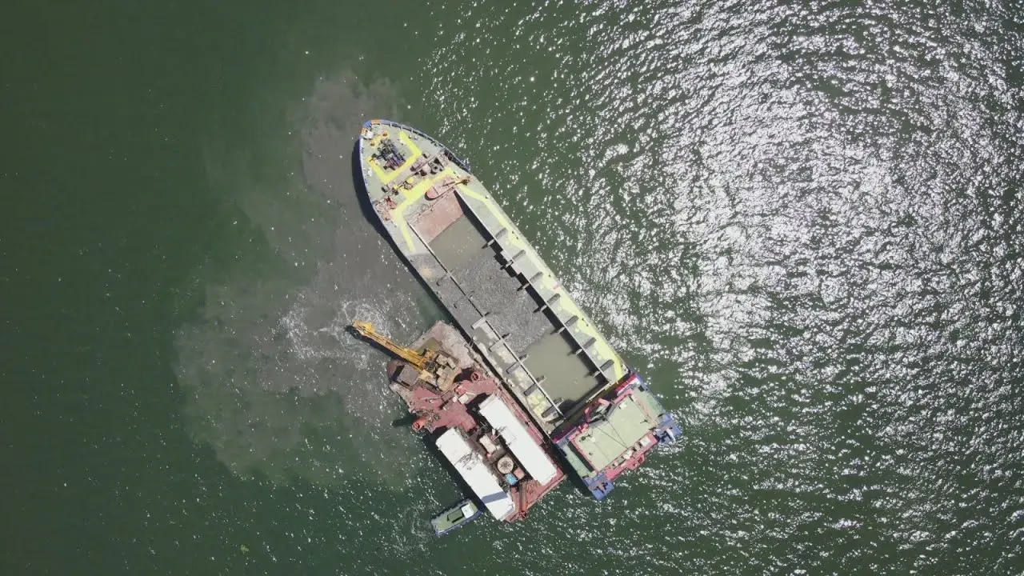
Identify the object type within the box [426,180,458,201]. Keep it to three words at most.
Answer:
boat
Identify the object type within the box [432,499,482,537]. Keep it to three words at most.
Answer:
boat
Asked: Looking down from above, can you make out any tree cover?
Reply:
No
